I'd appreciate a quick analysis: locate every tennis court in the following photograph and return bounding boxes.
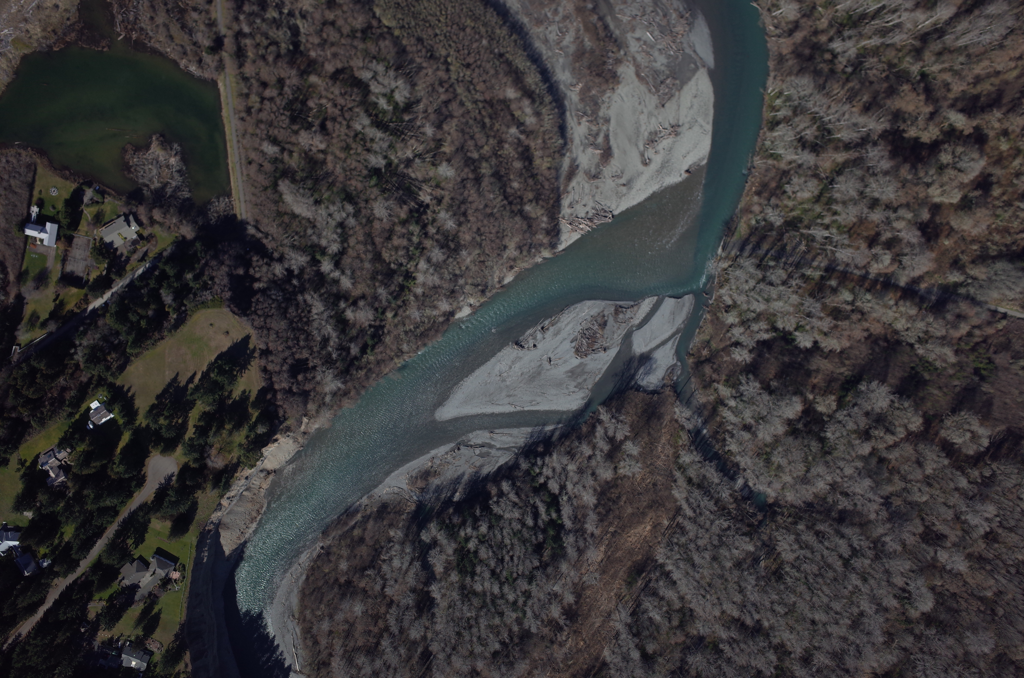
[57,234,91,287]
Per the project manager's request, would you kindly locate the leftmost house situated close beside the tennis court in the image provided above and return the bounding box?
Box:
[23,222,60,247]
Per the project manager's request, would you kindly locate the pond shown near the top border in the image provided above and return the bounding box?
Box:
[0,0,230,204]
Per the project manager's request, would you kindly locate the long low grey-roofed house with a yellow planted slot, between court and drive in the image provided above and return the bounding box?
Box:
[99,214,141,247]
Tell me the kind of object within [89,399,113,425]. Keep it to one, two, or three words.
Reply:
house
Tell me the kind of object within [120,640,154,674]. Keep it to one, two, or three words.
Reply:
house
